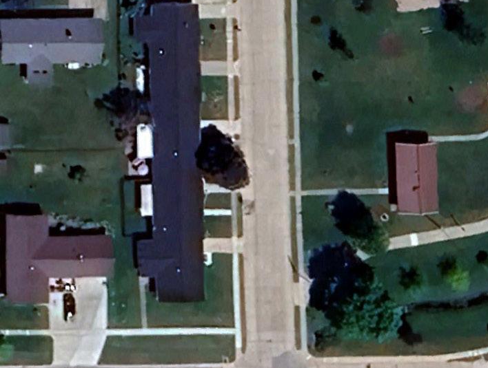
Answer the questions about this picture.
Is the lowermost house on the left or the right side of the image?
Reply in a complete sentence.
It is on the left.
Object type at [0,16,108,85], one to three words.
house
